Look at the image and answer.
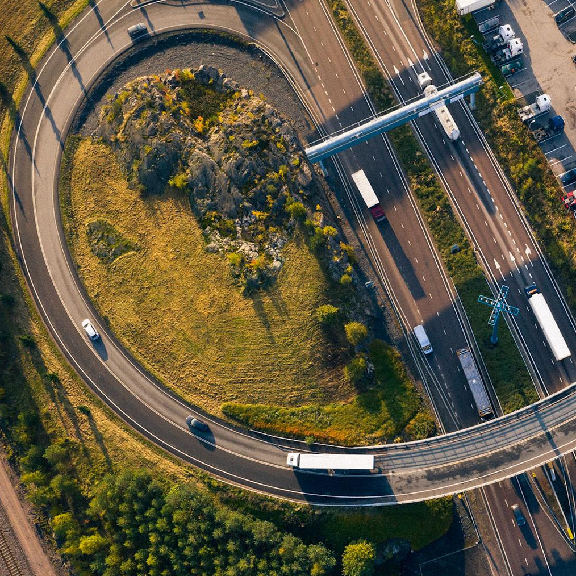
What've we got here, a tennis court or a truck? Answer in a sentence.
Visible in the photo is a truck.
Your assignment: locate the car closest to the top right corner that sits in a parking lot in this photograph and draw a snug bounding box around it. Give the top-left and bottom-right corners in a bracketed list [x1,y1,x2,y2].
[553,7,575,26]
